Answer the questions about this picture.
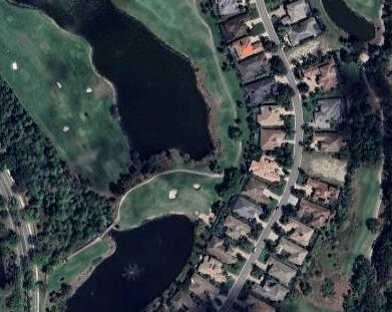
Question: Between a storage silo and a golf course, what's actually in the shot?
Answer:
golf course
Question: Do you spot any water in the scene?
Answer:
Yes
